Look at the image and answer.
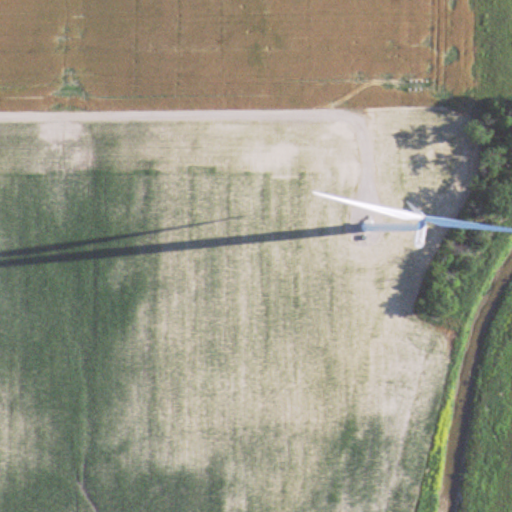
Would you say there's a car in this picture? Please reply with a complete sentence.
No, the frame has no car in it.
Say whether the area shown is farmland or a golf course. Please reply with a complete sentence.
This looks like farmland.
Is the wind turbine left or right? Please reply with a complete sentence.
The wind turbine is on the right side of the image.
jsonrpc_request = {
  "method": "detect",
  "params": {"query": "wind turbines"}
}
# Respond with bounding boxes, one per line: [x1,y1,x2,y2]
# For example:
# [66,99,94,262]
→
[314,191,512,248]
